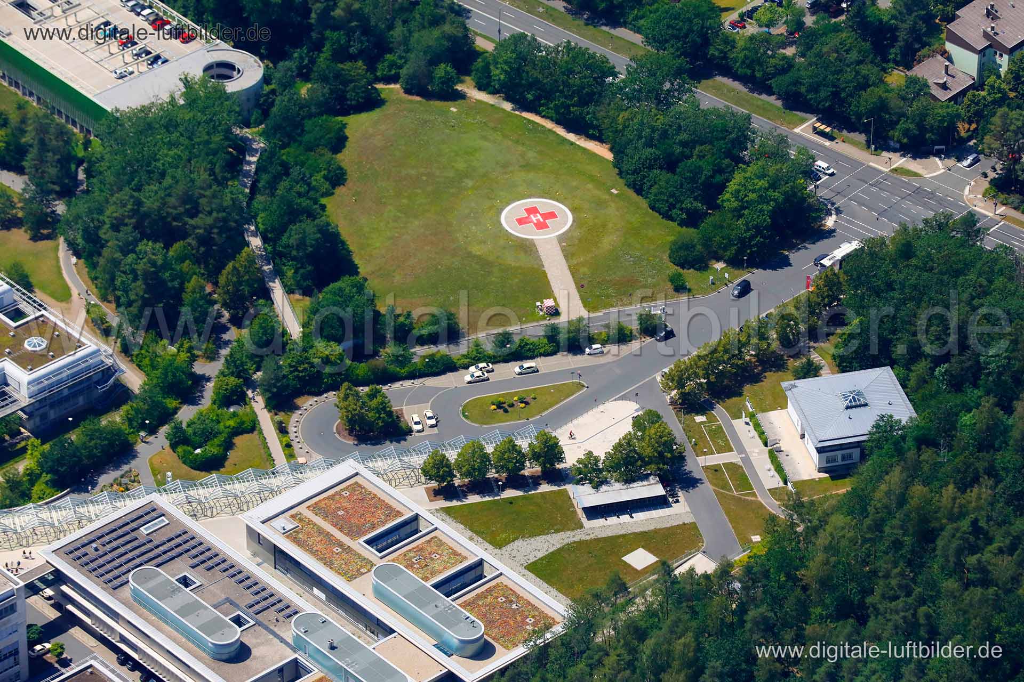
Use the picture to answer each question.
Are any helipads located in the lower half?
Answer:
No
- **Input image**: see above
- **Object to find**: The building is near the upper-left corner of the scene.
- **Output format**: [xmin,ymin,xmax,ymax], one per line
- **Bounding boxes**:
[0,0,264,141]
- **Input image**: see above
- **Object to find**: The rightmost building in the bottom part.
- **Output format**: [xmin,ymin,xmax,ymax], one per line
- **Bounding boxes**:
[781,366,925,463]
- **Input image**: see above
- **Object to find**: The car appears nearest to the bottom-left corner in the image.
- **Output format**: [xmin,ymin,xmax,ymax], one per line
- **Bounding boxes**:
[30,644,51,659]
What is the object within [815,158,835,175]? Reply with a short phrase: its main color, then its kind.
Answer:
white car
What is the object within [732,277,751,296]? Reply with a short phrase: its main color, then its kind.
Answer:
black vehicle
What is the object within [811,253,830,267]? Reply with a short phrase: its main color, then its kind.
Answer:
blue car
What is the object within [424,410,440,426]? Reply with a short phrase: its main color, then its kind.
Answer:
white car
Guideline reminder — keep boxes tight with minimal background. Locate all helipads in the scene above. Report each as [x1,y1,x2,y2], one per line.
[500,198,573,238]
